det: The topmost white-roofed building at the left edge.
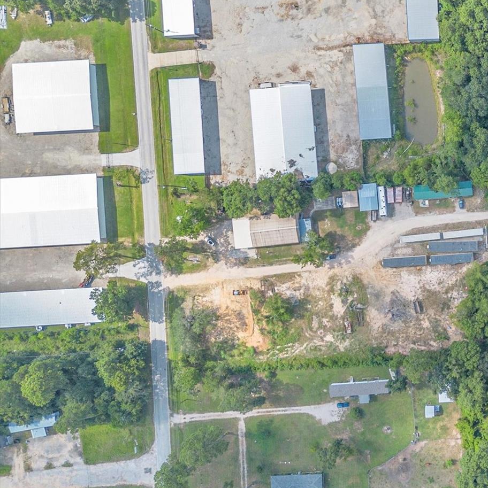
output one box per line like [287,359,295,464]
[12,59,100,134]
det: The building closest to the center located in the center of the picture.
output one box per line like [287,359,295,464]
[232,217,254,249]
